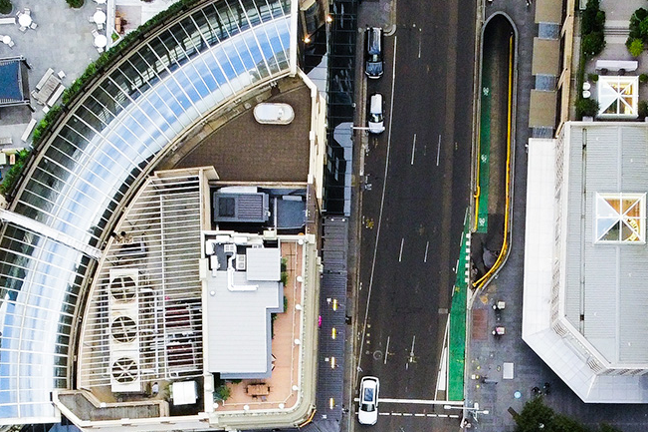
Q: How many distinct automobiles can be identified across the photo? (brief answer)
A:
3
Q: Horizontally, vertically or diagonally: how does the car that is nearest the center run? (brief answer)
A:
vertically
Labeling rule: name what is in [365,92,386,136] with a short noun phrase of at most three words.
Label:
car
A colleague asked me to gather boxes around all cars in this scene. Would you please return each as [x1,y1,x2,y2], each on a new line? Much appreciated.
[365,92,386,136]
[357,376,379,426]
[362,27,385,80]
